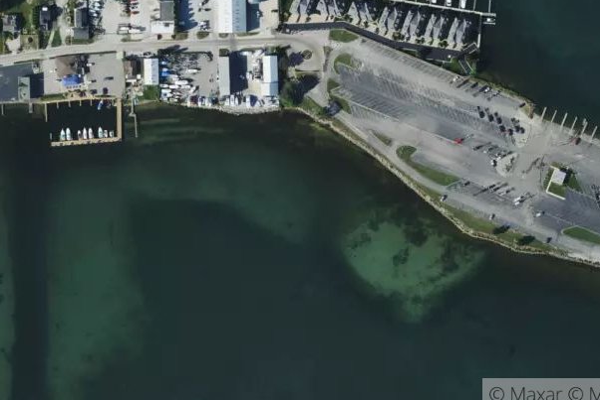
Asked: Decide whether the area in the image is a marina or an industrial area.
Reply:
marina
